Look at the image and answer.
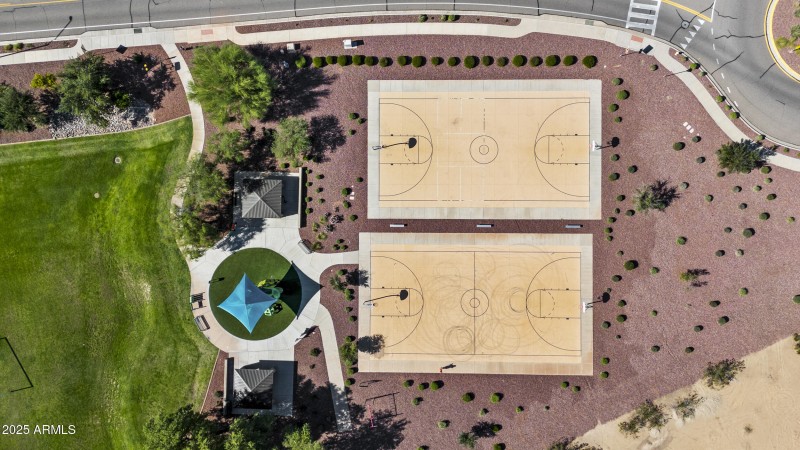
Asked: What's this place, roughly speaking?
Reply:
sports ground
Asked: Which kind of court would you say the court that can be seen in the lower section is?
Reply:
basketball court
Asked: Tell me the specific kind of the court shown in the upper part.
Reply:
basketball court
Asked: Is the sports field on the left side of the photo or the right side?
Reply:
left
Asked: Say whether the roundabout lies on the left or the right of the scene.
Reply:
right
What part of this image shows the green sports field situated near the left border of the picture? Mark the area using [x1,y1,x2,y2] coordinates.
[0,113,220,450]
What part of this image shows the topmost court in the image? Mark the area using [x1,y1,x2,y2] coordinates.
[367,80,602,220]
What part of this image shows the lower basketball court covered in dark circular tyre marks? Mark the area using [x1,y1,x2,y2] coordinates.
[358,232,593,376]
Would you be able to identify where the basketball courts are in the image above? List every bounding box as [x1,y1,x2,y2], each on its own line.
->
[358,232,593,376]
[367,80,602,220]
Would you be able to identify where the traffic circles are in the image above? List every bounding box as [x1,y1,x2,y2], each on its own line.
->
[713,0,800,137]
